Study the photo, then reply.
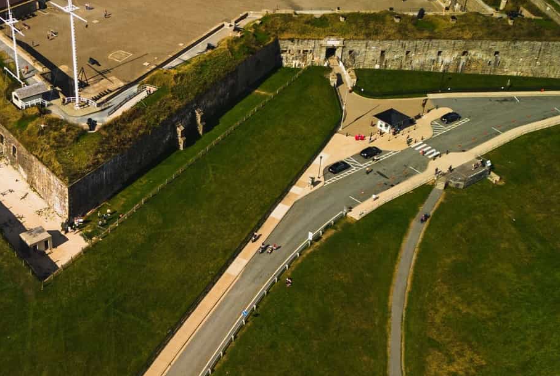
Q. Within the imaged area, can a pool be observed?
No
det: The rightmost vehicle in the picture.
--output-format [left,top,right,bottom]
[442,111,462,123]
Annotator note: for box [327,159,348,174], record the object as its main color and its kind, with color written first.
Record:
black car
